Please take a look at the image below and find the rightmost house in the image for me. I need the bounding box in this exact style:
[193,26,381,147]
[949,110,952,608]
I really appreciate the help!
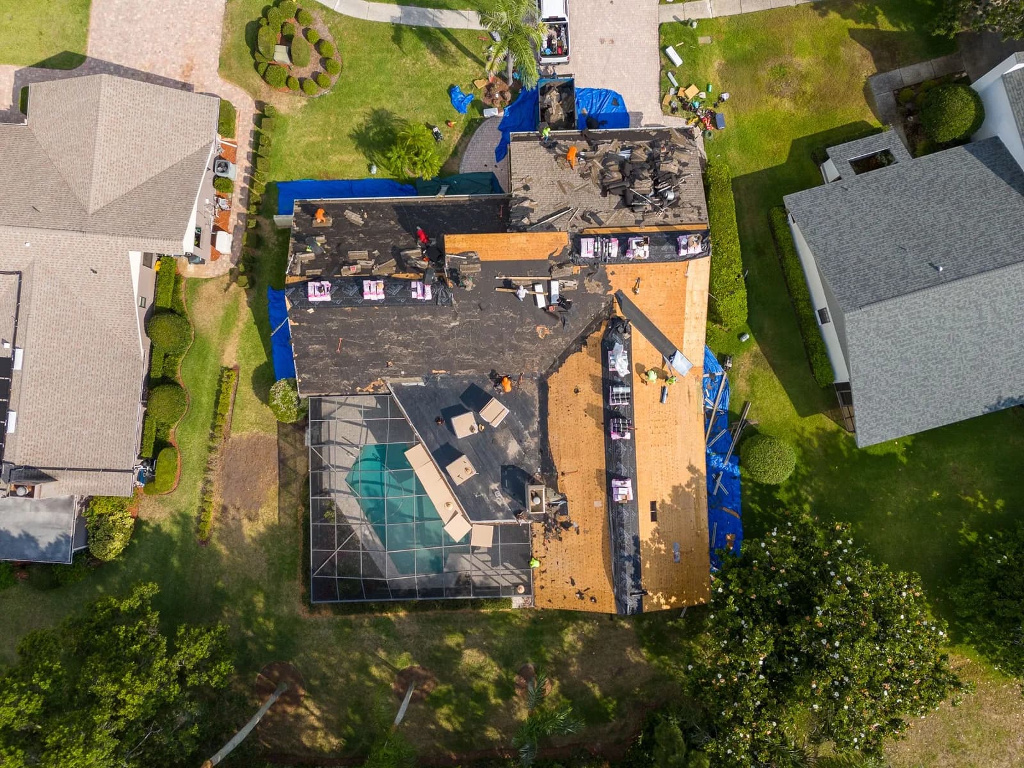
[782,50,1024,448]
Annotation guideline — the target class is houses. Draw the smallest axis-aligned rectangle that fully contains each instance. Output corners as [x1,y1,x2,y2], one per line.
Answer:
[285,127,711,614]
[0,74,227,564]
[782,50,1024,448]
